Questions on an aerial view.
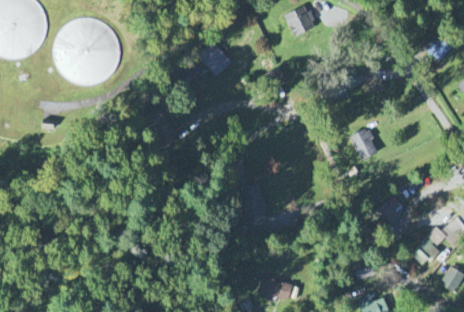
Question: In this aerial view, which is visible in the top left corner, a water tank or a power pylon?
water tank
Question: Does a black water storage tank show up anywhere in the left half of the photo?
No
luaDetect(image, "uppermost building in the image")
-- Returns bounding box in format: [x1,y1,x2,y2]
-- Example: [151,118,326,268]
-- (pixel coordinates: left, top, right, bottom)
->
[285,6,316,37]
